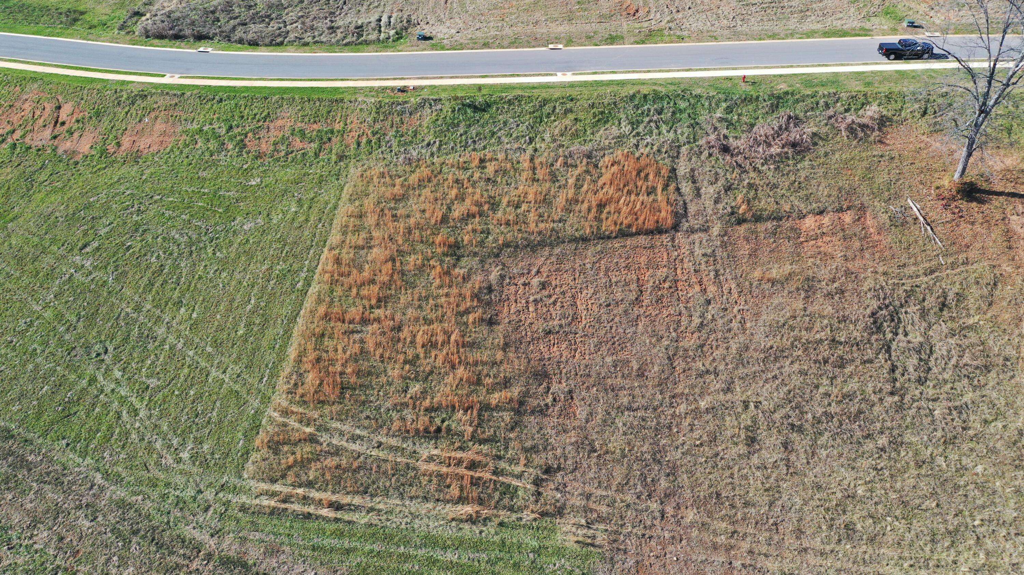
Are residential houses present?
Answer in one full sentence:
No, there appears to be no residential house in this shot.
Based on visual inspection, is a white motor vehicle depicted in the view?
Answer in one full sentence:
No, there appears to be no white motor vehicle in this shot.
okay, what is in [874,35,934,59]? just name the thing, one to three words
truck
